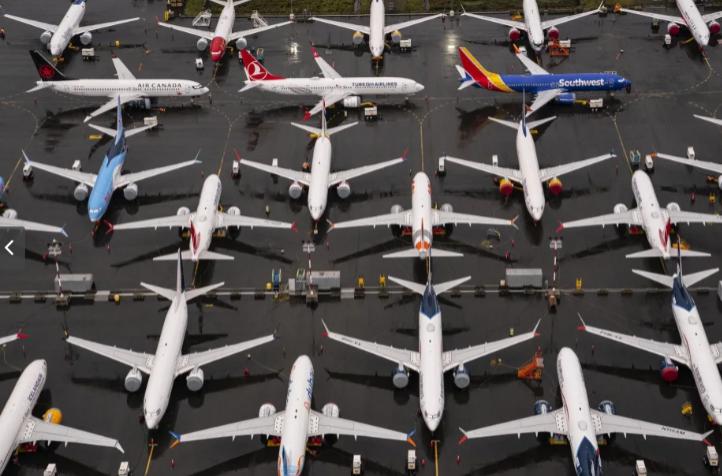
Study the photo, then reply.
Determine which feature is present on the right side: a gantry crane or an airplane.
airplane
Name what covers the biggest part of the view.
paved ground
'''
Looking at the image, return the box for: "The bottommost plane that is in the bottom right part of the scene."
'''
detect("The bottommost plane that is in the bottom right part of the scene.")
[462,346,712,476]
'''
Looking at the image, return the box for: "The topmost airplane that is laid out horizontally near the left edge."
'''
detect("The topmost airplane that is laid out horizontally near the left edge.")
[4,0,143,61]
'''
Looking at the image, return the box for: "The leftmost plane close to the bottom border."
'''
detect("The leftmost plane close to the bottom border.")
[0,352,121,471]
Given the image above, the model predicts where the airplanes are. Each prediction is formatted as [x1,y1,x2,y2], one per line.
[577,238,722,422]
[556,166,722,259]
[235,45,423,121]
[25,94,201,226]
[155,0,297,67]
[0,319,27,347]
[616,0,722,51]
[234,93,410,224]
[170,346,416,476]
[63,247,282,432]
[306,0,448,61]
[105,169,299,261]
[23,49,208,125]
[325,166,519,259]
[0,174,68,238]
[454,42,630,118]
[322,244,541,429]
[439,89,617,221]
[460,0,602,56]
[462,346,712,476]
[4,0,143,61]
[0,352,121,471]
